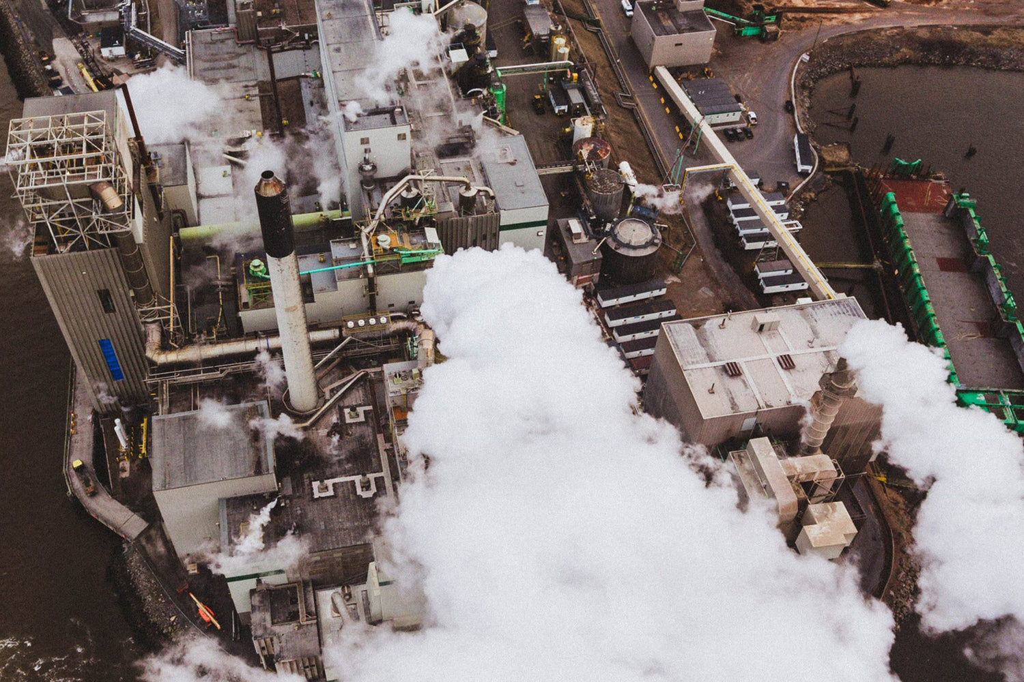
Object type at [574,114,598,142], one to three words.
silo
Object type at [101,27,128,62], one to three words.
shed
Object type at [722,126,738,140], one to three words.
car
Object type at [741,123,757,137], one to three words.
car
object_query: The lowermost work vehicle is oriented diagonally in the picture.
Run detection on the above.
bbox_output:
[187,590,225,636]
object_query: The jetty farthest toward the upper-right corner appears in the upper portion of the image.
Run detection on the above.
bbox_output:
[847,168,922,349]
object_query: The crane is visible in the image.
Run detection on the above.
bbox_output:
[76,61,113,89]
